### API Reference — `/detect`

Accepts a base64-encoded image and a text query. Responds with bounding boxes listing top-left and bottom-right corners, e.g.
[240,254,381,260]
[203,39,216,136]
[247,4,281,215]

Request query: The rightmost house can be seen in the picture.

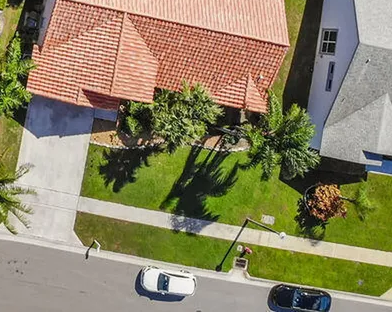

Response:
[309,0,392,171]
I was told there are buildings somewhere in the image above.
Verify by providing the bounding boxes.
[309,0,392,171]
[25,0,290,113]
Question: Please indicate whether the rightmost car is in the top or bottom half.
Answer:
bottom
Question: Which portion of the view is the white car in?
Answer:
bottom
